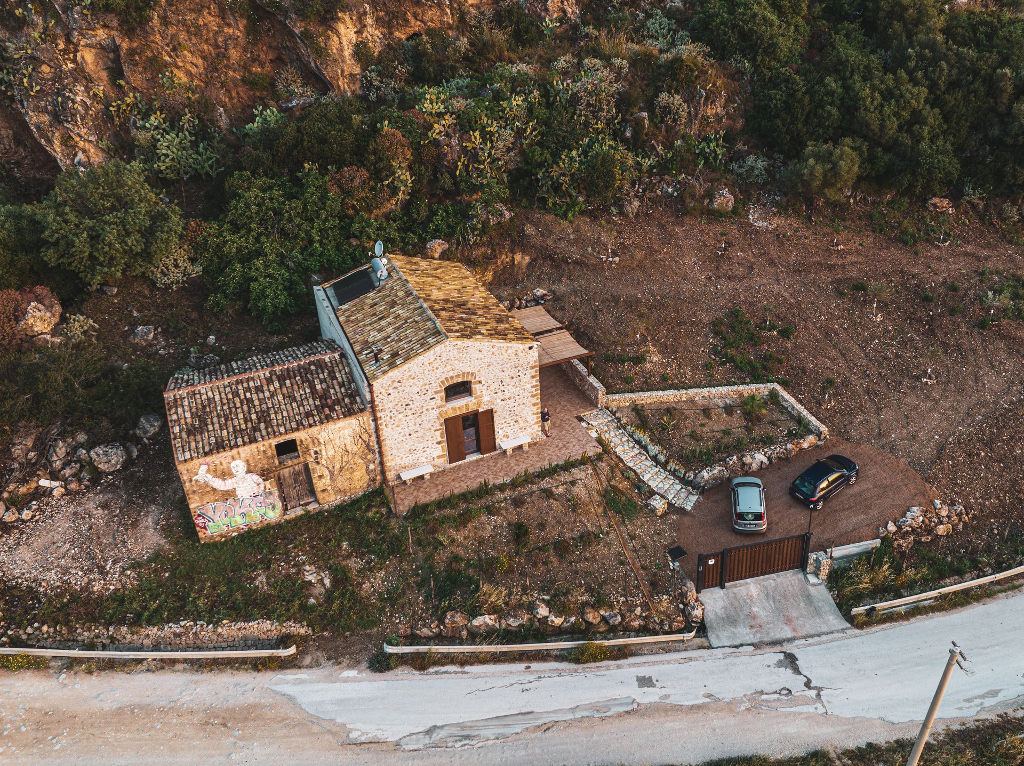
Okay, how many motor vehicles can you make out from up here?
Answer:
2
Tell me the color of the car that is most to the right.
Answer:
black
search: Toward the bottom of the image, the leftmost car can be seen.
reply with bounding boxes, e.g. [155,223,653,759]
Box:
[729,477,768,530]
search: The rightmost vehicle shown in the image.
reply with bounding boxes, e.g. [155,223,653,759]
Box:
[789,458,857,510]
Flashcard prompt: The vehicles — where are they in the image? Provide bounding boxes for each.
[789,458,857,510]
[729,477,768,530]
